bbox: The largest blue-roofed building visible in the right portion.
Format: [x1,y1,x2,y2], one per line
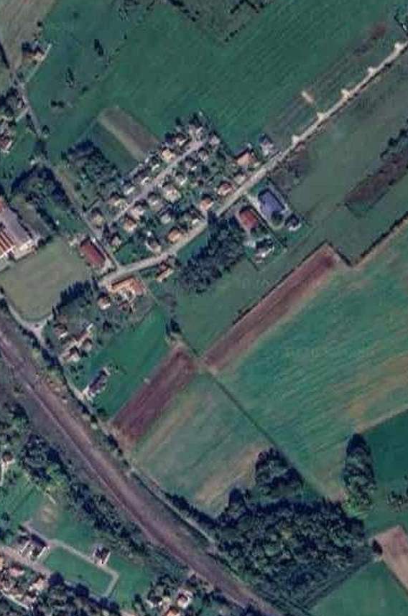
[260,189,285,216]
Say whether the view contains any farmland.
Yes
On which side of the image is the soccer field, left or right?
left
